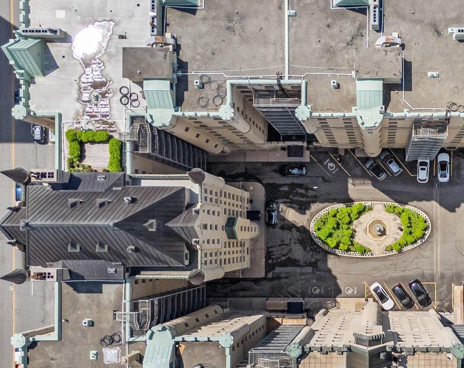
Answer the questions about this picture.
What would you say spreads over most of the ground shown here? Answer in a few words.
buildings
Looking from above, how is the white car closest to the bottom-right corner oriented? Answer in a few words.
diagonally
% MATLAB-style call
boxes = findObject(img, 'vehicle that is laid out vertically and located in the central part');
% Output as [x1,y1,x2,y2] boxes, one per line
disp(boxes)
[265,198,279,229]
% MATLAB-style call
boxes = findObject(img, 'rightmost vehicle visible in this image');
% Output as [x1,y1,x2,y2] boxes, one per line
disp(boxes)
[436,152,451,183]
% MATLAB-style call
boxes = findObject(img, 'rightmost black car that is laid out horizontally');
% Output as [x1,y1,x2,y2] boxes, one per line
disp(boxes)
[277,163,307,177]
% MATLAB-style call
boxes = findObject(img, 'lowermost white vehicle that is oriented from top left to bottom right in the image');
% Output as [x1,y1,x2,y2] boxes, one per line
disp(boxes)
[369,280,396,312]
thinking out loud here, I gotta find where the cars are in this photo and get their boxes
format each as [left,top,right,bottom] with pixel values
[30,122,46,149]
[369,280,396,312]
[436,152,451,183]
[277,163,307,177]
[390,282,414,312]
[408,279,432,309]
[364,155,388,184]
[11,82,22,107]
[417,158,431,185]
[379,147,403,176]
[265,198,279,229]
